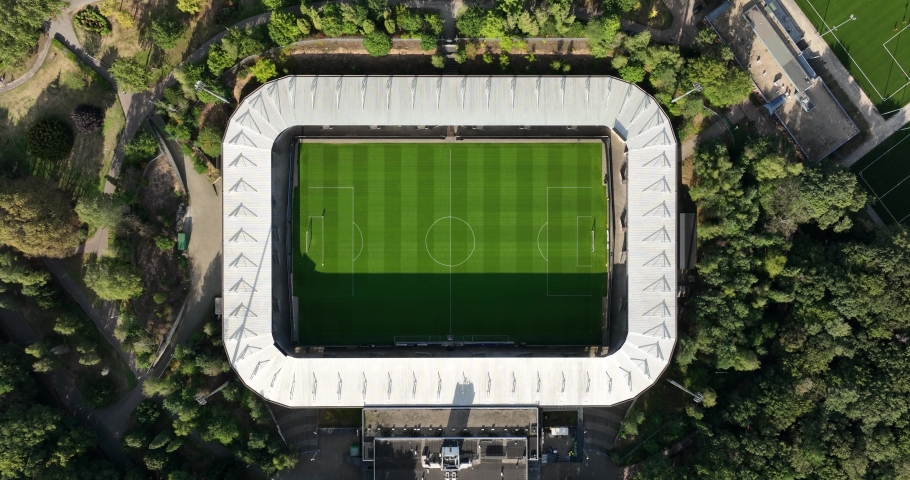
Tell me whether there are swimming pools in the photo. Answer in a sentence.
No, I can't see a single swimming pool in this photo.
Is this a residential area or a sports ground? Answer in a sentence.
It's a sports ground.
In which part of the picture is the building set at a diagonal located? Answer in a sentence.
The building set at a diagonal sits in the top right section of the image.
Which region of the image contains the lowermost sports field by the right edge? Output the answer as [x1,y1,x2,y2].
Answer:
[848,121,910,236]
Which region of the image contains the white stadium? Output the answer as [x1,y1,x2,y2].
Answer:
[220,72,680,412]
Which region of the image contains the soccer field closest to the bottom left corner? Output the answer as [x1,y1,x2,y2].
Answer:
[295,142,606,345]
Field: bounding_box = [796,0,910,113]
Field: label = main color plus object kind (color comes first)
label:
green sports field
